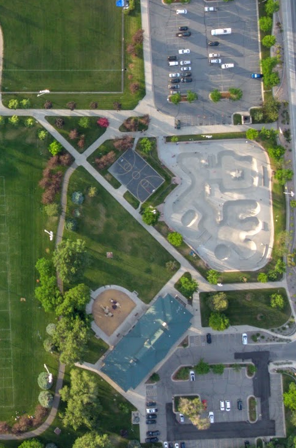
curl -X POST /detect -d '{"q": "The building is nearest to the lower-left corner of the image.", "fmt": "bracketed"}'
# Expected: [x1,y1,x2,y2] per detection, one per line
[101,294,193,392]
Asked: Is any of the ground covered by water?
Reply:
No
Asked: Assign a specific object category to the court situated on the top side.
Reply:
basketball court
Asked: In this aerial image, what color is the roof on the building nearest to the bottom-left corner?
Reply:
blue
